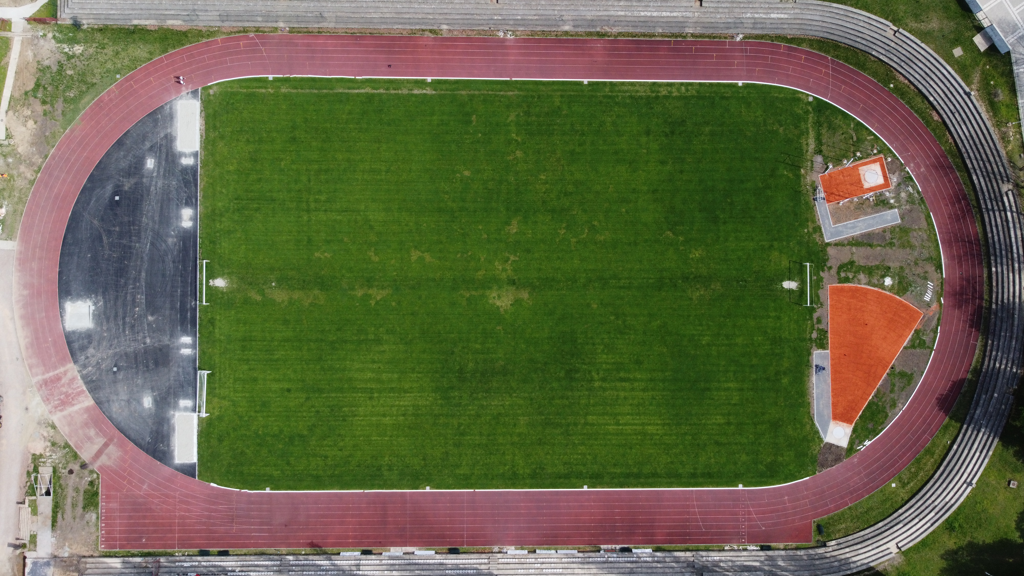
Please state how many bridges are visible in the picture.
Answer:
zero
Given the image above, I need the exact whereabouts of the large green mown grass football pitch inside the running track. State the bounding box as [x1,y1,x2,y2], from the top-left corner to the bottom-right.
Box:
[198,76,816,491]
